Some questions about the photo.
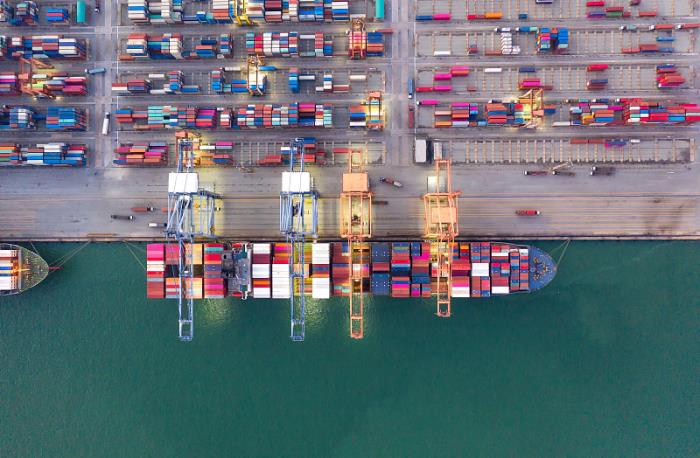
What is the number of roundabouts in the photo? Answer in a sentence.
I count no roundabouts.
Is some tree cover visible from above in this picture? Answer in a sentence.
No, the scene doesn't show any tree cover.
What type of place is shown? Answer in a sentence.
This image shows a port.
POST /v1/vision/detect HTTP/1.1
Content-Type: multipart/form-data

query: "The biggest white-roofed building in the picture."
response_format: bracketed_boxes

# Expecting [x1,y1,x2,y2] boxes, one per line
[415,139,430,163]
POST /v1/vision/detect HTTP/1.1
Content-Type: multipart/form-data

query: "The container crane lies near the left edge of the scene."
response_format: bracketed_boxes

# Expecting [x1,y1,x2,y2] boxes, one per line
[19,57,51,98]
